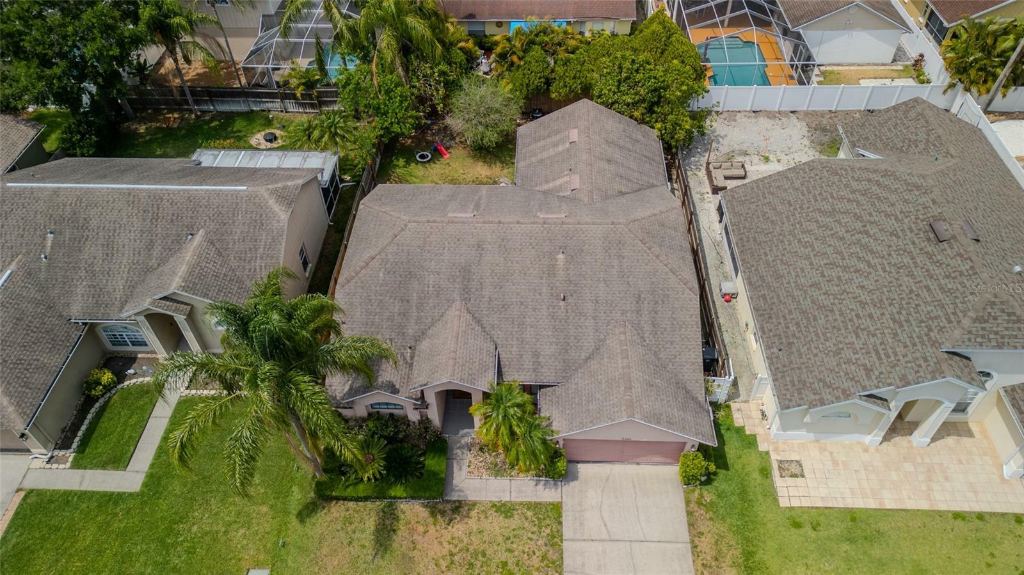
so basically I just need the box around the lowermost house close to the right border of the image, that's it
[714,96,1024,484]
